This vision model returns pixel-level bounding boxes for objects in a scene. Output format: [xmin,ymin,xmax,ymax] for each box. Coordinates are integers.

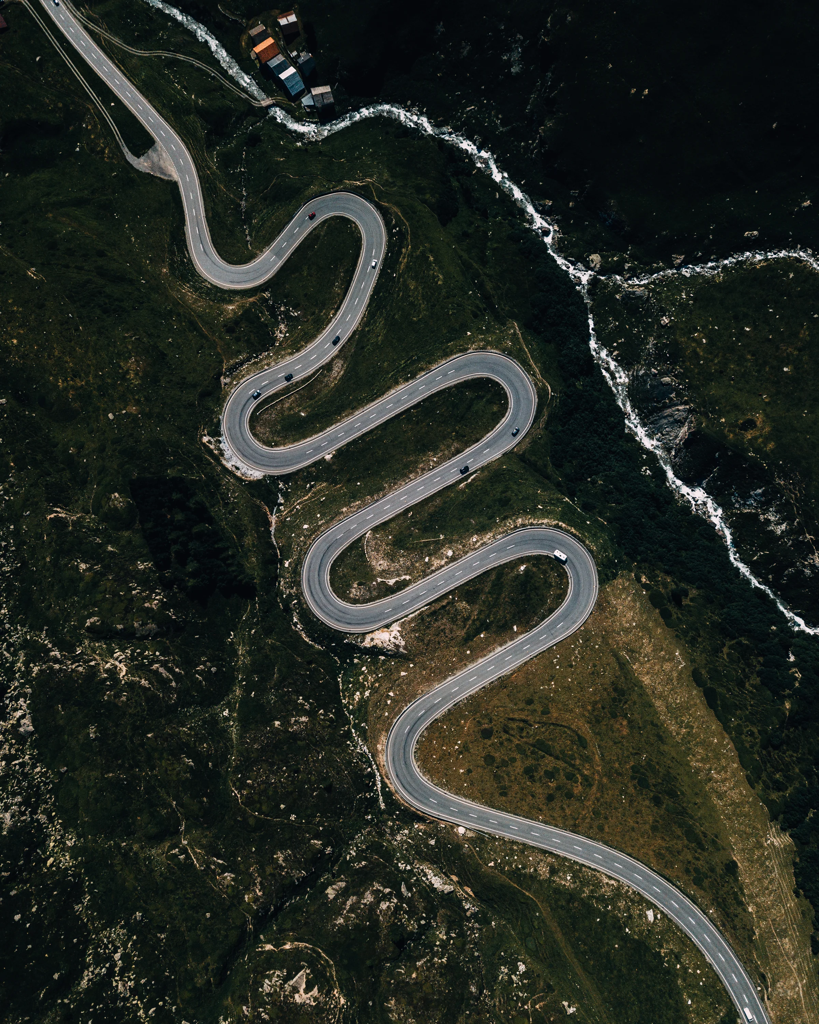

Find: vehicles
[307,211,316,219]
[283,373,293,380]
[331,335,341,344]
[458,465,471,474]
[741,1004,753,1020]
[511,426,520,436]
[251,389,262,398]
[551,548,568,561]
[371,259,377,268]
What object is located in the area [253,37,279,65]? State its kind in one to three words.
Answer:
house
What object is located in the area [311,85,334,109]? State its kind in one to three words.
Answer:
barn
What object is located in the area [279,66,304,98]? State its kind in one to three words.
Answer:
house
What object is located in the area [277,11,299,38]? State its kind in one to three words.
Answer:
barn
